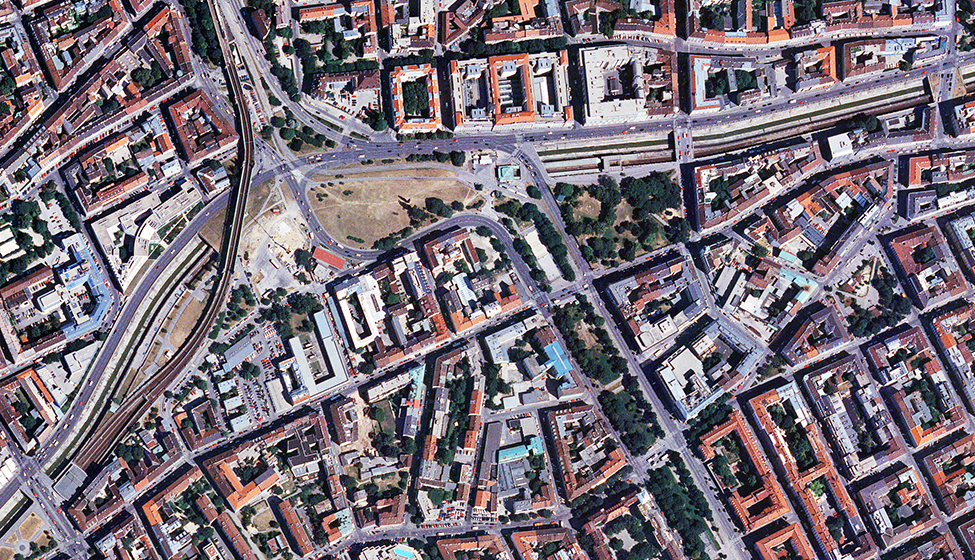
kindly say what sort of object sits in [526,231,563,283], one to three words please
sports court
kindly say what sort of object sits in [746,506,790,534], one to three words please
house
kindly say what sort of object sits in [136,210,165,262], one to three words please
building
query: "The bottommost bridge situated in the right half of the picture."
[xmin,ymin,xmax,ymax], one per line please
[673,125,694,163]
